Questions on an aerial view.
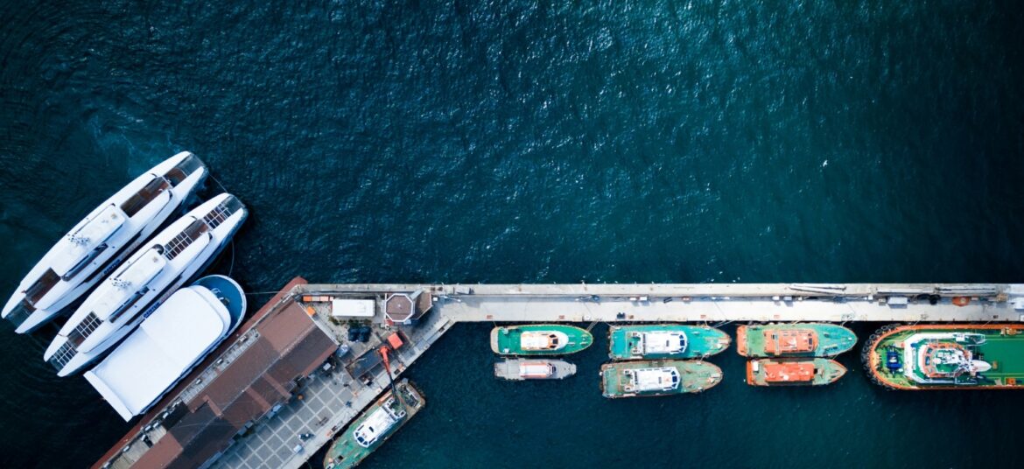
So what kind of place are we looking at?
port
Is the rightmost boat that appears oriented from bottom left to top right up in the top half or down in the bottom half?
bottom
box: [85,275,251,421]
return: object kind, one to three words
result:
ship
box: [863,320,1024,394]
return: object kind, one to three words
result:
boat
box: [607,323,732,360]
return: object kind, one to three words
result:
boat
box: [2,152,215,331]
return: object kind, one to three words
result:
ship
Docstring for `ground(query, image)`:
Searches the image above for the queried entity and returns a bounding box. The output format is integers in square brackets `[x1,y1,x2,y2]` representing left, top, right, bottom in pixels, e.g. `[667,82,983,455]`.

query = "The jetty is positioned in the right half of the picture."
[305,281,1024,323]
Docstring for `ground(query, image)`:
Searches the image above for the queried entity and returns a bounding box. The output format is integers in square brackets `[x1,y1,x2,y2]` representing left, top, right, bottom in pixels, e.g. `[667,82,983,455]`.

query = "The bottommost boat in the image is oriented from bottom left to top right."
[323,380,425,469]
